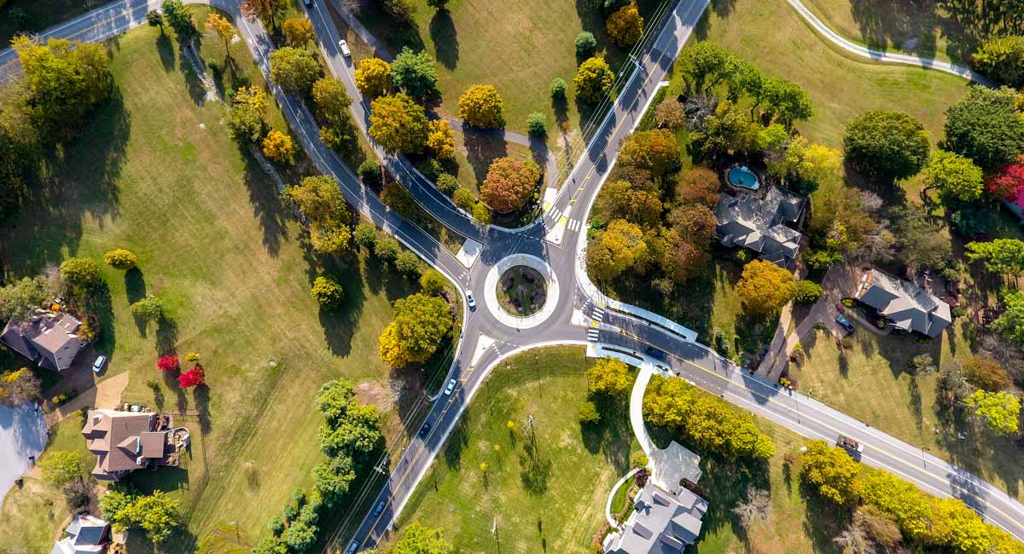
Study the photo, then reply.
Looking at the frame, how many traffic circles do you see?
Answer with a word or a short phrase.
1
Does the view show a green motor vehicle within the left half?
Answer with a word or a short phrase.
No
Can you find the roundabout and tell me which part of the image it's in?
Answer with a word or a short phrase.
center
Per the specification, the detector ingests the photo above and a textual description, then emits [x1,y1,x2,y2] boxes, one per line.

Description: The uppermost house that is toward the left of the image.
[0,307,92,376]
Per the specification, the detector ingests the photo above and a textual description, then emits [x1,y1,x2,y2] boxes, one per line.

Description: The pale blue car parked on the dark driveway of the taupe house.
[92,355,108,374]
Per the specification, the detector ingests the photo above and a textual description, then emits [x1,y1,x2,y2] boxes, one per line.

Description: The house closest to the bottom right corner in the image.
[851,269,959,339]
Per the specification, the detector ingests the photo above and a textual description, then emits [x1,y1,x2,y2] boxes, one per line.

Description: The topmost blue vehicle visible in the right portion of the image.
[835,316,855,333]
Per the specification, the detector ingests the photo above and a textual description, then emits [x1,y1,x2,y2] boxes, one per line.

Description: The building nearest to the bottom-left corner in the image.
[37,506,118,554]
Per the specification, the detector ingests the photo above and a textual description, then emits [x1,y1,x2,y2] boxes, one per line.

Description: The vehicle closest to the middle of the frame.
[464,289,476,307]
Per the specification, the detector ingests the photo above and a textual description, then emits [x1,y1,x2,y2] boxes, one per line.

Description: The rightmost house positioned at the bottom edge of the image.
[600,479,718,554]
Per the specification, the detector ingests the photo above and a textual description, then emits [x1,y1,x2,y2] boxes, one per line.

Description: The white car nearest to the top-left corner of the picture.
[337,38,351,58]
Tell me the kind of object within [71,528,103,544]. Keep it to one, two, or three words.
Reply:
solar panel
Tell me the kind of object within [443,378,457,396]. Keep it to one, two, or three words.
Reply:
car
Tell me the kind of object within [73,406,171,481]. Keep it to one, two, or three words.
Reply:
house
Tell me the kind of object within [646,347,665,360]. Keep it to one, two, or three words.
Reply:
vehicle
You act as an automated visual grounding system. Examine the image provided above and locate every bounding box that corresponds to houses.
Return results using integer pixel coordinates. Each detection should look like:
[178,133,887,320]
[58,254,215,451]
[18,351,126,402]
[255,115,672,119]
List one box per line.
[714,182,809,271]
[73,406,171,481]
[600,479,718,554]
[851,269,959,339]
[37,506,118,554]
[0,307,92,376]
[985,171,1024,228]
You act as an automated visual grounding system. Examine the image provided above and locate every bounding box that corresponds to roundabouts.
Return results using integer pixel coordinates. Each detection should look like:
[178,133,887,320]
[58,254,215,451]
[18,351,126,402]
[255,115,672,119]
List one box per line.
[456,206,621,366]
